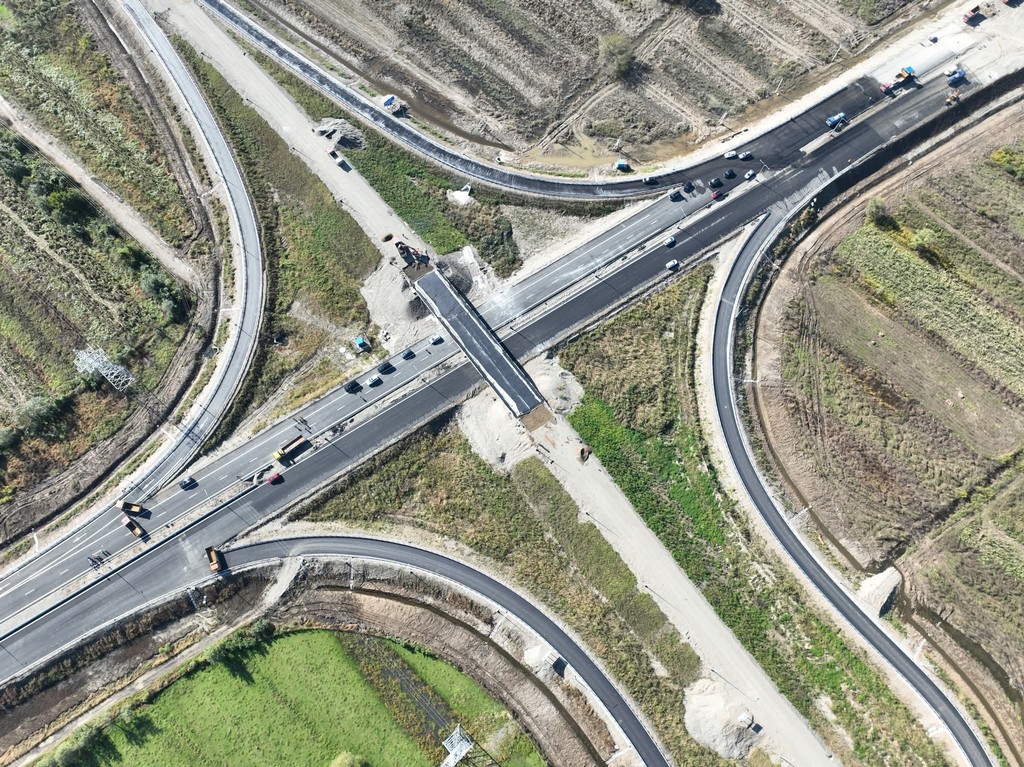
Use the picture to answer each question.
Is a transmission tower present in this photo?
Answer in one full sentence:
Yes, there's a transmission tower down there.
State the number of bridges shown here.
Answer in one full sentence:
My tally gives 1 bridge in this photo.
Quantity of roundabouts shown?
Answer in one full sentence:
The picture shows no roundabouts.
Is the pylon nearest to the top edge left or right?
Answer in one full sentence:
You can find the pylon nearest to the top edge on the left side of the picture.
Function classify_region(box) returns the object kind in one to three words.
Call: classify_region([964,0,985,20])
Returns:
vehicle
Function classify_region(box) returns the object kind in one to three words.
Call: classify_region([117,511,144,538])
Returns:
truck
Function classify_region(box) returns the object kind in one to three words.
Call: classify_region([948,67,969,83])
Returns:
vehicle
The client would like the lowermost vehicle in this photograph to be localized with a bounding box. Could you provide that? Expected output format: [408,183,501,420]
[201,542,221,573]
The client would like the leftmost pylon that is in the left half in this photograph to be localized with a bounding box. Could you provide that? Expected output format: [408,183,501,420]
[69,346,136,397]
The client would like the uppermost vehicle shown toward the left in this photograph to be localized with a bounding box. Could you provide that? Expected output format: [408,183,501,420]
[328,144,349,166]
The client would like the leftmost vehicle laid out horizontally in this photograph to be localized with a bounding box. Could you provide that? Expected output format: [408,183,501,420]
[112,497,143,513]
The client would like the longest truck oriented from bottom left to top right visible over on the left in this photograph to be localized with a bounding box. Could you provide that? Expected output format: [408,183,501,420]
[270,432,306,460]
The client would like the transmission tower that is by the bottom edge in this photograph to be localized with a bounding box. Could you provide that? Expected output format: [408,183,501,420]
[434,720,474,767]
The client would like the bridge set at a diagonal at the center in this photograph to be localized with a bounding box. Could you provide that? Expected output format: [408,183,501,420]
[401,254,555,433]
